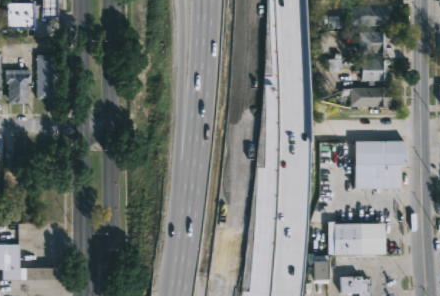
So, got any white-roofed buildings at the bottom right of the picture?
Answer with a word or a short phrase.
Yes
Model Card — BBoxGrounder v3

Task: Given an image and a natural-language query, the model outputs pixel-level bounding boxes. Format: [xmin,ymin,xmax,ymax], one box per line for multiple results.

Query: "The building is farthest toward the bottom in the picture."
[340,276,372,296]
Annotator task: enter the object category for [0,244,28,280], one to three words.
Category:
building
